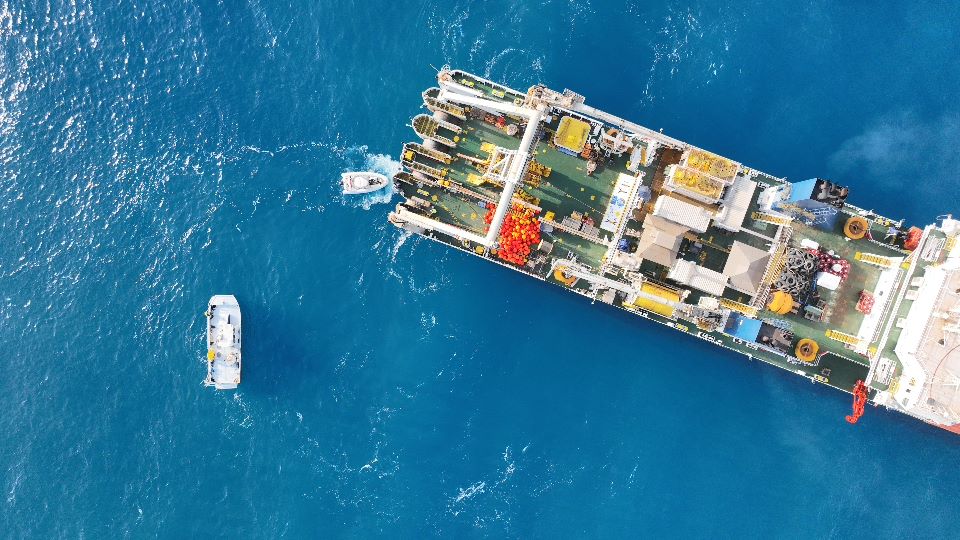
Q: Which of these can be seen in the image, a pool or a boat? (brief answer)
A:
boat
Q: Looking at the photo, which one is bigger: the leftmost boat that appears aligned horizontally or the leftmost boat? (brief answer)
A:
the leftmost boat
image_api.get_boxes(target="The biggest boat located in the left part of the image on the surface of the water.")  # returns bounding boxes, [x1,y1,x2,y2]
[204,295,243,390]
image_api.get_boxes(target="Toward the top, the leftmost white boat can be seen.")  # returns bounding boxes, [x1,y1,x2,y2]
[337,171,389,195]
